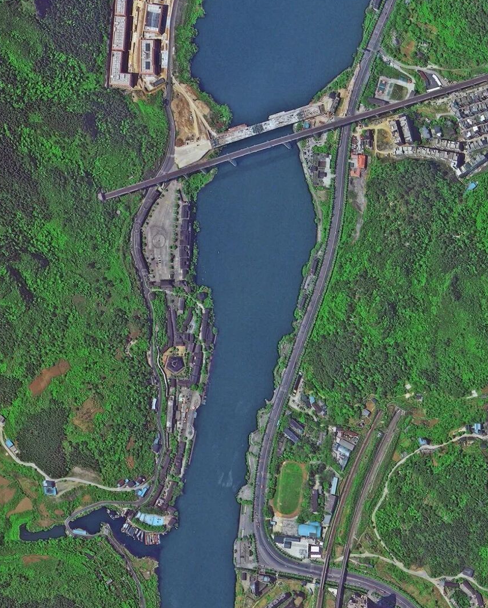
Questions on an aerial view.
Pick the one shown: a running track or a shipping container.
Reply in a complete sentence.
I can see a running track in this picture.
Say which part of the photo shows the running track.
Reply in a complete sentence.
The running track is located in the bottom region of the scene.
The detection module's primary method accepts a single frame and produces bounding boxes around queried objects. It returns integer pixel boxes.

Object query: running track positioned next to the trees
[275,461,309,517]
